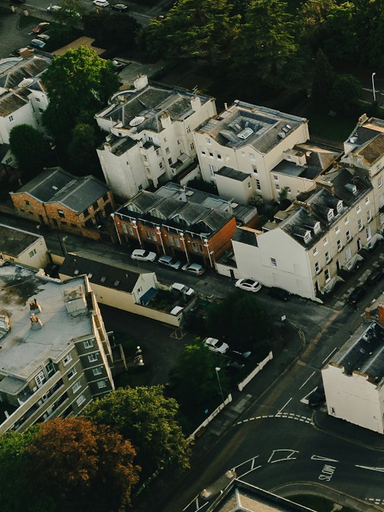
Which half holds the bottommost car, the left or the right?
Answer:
right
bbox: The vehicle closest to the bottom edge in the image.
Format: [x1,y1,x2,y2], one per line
[302,385,329,410]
